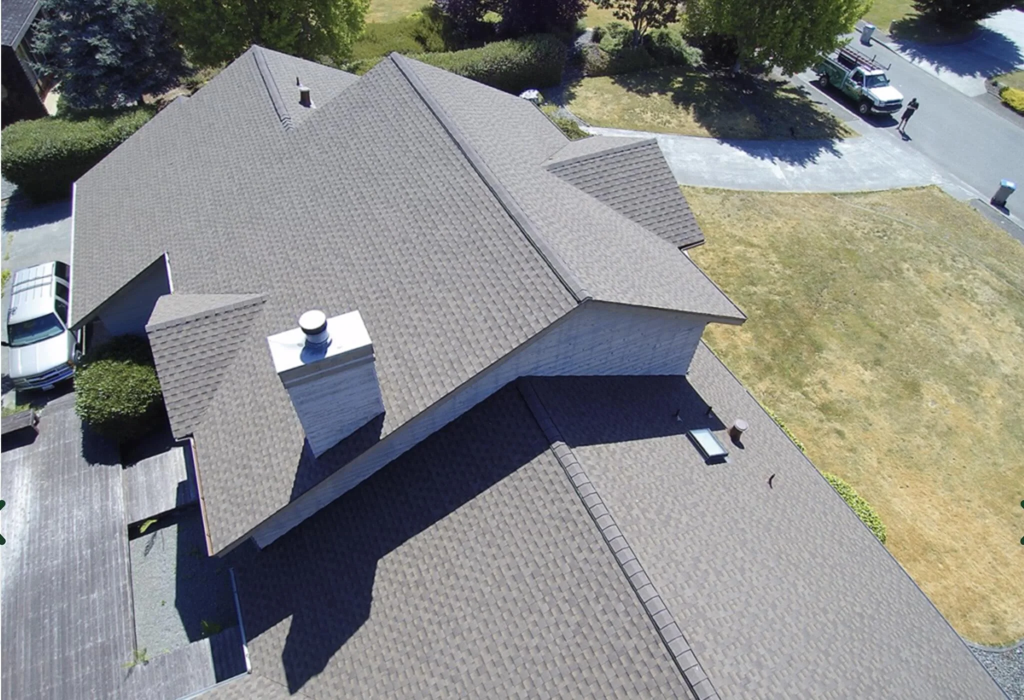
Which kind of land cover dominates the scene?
buildings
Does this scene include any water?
No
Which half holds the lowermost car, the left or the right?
left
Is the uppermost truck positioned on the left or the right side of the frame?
right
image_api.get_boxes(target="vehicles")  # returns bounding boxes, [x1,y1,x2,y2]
[804,36,908,121]
[1,264,87,395]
